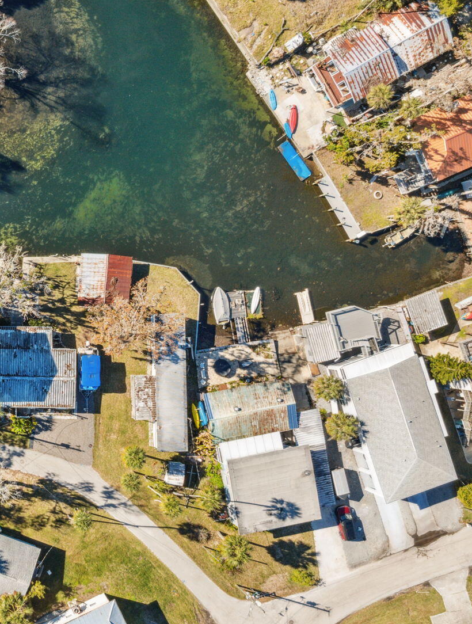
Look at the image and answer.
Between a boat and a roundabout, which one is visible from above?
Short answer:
boat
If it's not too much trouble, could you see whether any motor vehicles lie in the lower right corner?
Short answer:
Yes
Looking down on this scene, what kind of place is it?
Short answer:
residential area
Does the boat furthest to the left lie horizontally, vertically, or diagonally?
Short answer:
vertically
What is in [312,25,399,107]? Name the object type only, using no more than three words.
house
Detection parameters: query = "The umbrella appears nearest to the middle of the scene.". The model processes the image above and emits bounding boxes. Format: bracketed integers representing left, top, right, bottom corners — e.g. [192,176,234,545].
[212,359,229,376]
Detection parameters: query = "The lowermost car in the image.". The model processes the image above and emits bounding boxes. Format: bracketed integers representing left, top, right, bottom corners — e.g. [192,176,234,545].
[338,505,363,543]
